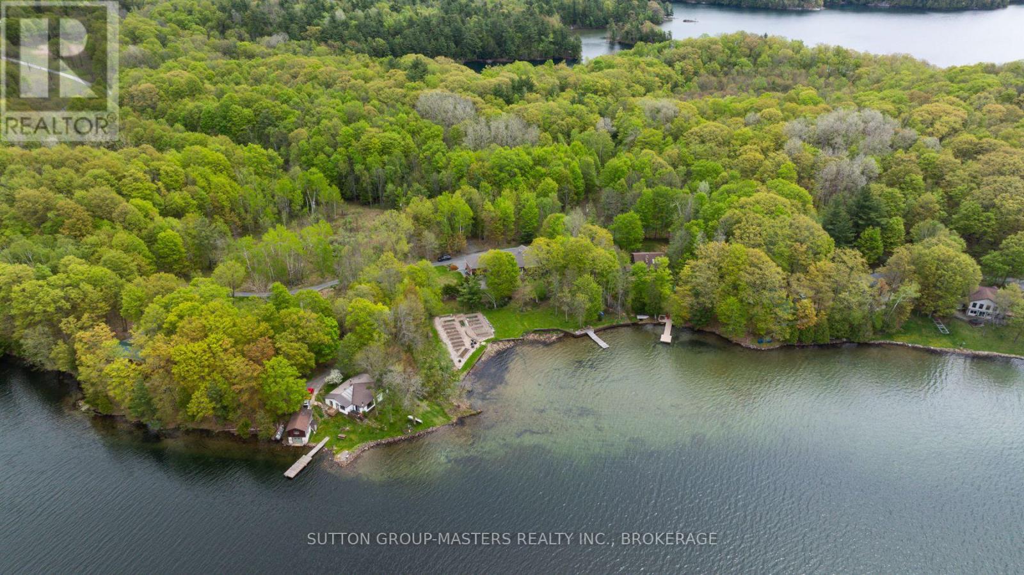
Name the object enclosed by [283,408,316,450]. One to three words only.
building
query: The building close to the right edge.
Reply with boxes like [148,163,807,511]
[962,284,1003,321]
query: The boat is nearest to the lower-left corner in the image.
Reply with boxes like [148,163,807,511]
[273,421,285,441]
